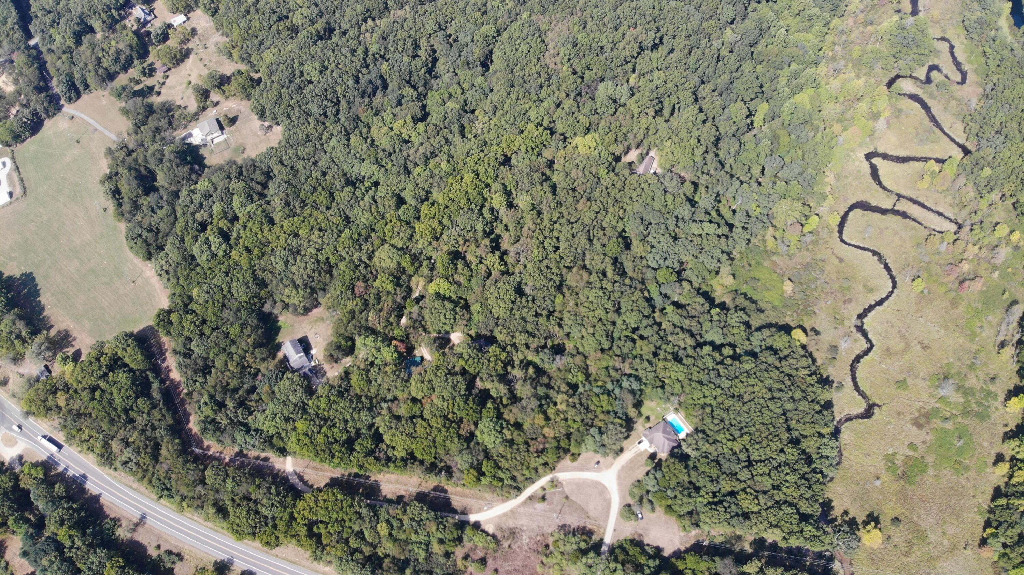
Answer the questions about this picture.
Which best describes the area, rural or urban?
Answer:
rural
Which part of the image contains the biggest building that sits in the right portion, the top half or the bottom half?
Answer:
bottom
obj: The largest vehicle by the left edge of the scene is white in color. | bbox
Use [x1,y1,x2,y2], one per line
[38,436,62,453]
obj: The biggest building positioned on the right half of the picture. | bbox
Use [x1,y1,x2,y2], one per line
[643,420,678,453]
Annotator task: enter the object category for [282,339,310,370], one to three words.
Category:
house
